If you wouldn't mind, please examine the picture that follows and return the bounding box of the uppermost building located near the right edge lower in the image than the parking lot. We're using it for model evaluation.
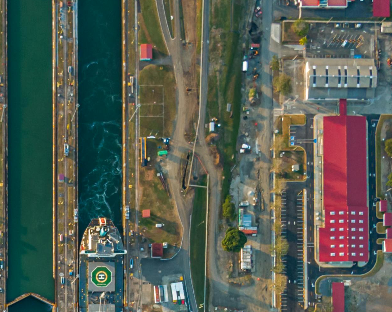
[304,59,378,101]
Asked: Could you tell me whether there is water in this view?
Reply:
Yes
